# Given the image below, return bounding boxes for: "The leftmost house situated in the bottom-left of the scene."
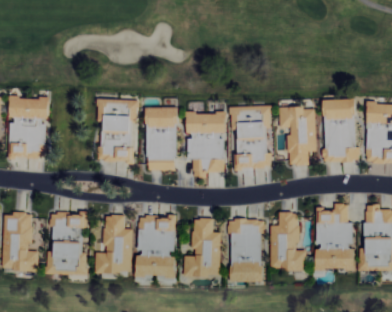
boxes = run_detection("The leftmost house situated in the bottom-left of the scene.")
[2,212,39,273]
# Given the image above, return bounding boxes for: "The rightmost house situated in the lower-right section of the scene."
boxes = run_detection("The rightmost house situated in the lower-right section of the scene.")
[359,205,392,272]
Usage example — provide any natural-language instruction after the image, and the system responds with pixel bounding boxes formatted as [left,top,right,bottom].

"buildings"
[8,96,50,158]
[366,100,392,164]
[134,214,177,280]
[44,210,88,277]
[228,218,266,283]
[186,112,226,177]
[322,99,362,162]
[183,218,222,278]
[144,106,178,172]
[94,214,133,277]
[315,203,357,272]
[279,106,318,166]
[2,212,39,273]
[229,107,272,174]
[96,98,139,165]
[270,212,307,273]
[359,205,392,272]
